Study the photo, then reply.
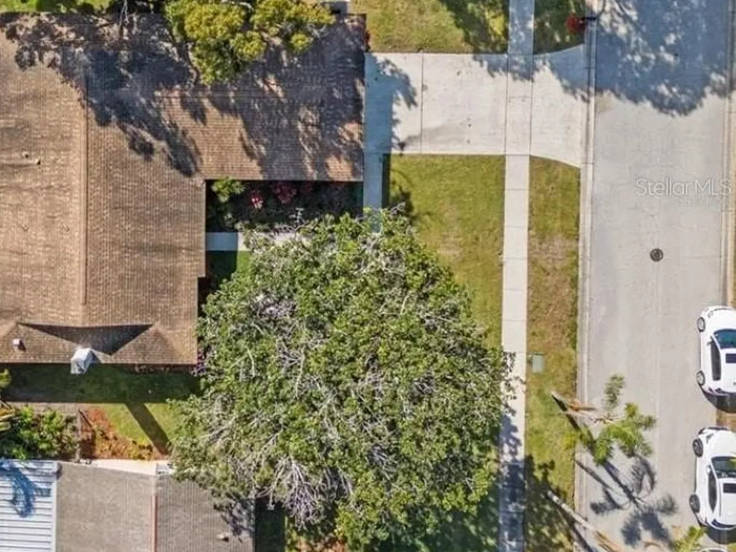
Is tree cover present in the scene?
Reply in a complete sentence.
Yes, there is tree cover in the image.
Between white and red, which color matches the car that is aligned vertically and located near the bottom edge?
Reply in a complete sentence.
From above, the car that is aligned vertically and located near the bottom edge appears white.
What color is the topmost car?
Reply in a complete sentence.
From above, the topmost car appears white.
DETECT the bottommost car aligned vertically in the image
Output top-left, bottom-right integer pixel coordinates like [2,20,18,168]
[690,425,736,526]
